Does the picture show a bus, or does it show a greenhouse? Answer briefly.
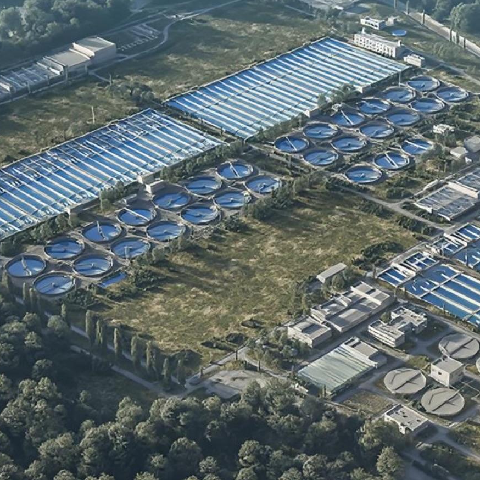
greenhouse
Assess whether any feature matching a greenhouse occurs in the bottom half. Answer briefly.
Yes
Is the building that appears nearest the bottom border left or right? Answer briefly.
right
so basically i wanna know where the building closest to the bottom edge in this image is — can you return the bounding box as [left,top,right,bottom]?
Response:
[384,403,428,438]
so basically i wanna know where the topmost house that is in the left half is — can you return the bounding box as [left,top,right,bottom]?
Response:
[42,35,115,78]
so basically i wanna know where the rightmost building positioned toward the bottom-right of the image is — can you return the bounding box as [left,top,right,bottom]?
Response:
[431,355,464,386]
